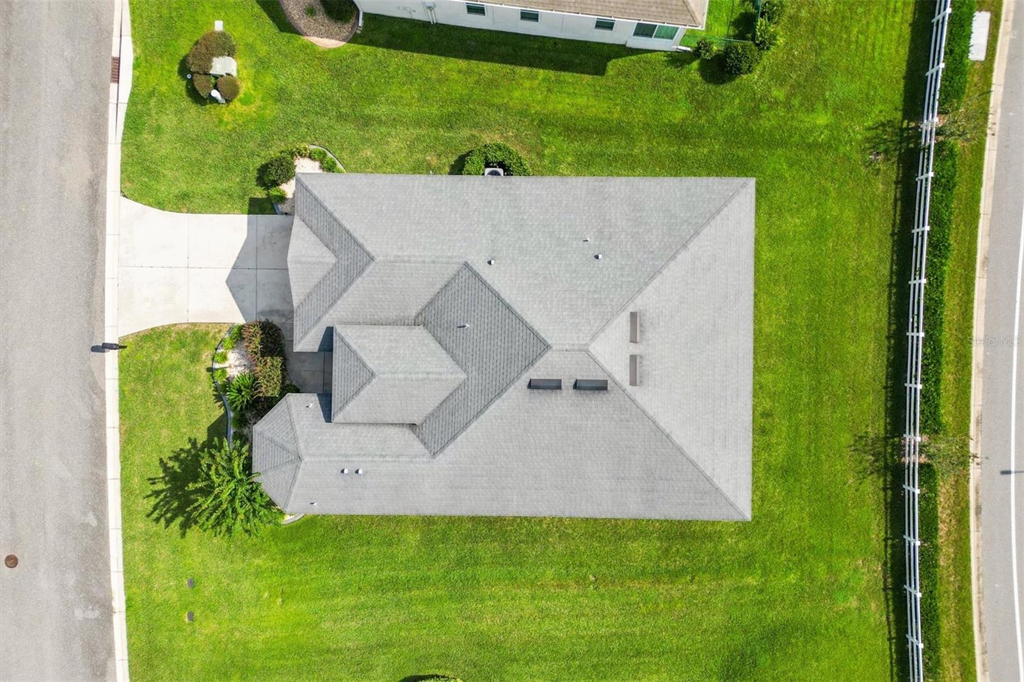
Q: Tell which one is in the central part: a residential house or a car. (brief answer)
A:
residential house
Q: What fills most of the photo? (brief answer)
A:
grass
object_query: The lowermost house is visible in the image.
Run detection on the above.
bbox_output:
[252,172,756,520]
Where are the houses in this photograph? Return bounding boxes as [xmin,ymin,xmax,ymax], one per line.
[354,0,710,57]
[252,172,756,520]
